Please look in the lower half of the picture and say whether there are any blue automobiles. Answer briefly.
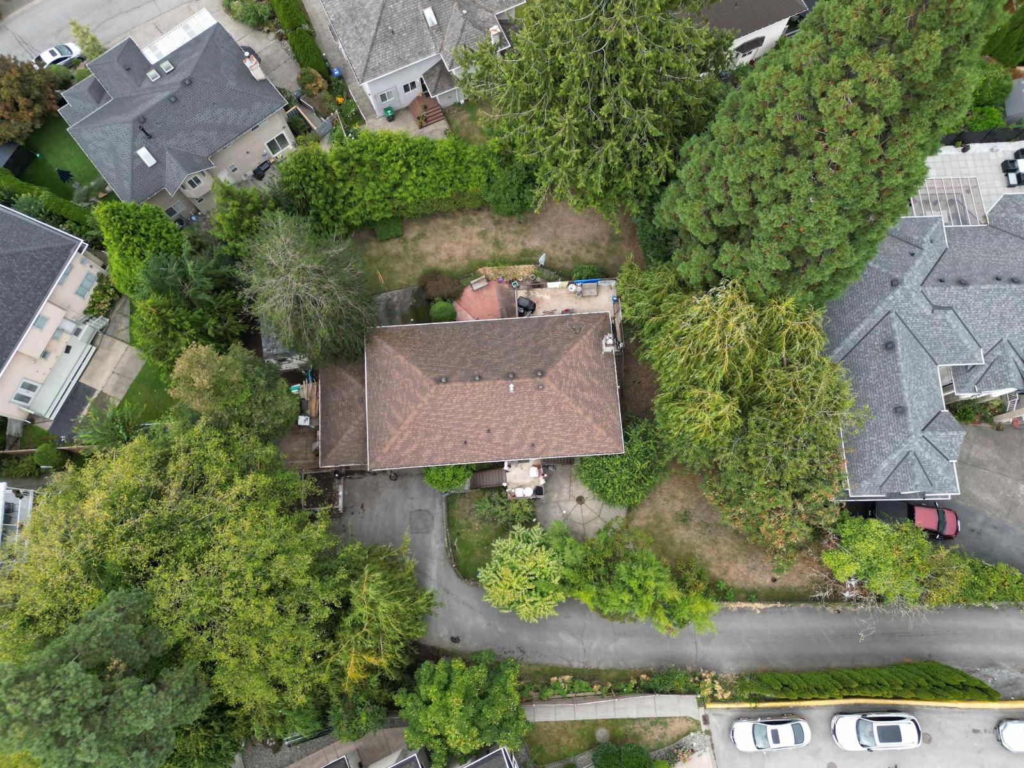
No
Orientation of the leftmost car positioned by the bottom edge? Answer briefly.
from side to side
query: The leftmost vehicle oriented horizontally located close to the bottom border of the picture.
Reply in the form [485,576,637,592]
[727,712,811,754]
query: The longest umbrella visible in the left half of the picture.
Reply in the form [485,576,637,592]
[57,165,79,188]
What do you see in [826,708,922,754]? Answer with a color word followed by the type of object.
white car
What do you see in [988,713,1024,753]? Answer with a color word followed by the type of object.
white car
